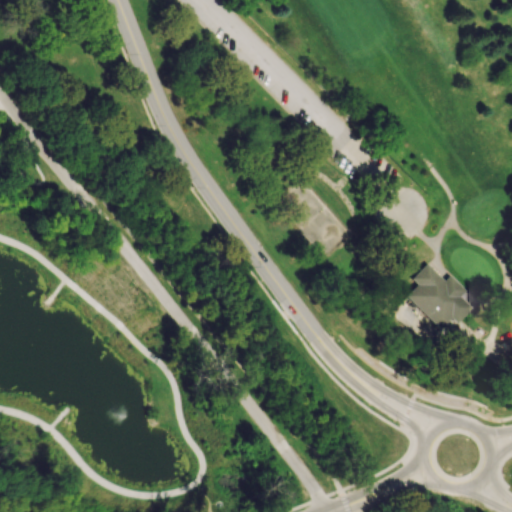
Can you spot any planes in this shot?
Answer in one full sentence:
No, I can see no plane in this picture.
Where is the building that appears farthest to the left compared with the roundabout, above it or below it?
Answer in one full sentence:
The position of the building that appears farthest to the left is above the roundabout.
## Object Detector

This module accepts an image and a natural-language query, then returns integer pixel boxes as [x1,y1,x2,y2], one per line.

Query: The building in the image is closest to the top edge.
[411,264,474,324]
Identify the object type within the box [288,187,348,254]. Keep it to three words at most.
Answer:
sports court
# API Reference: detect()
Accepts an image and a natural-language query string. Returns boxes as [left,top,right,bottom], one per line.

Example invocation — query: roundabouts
[350,370,512,512]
